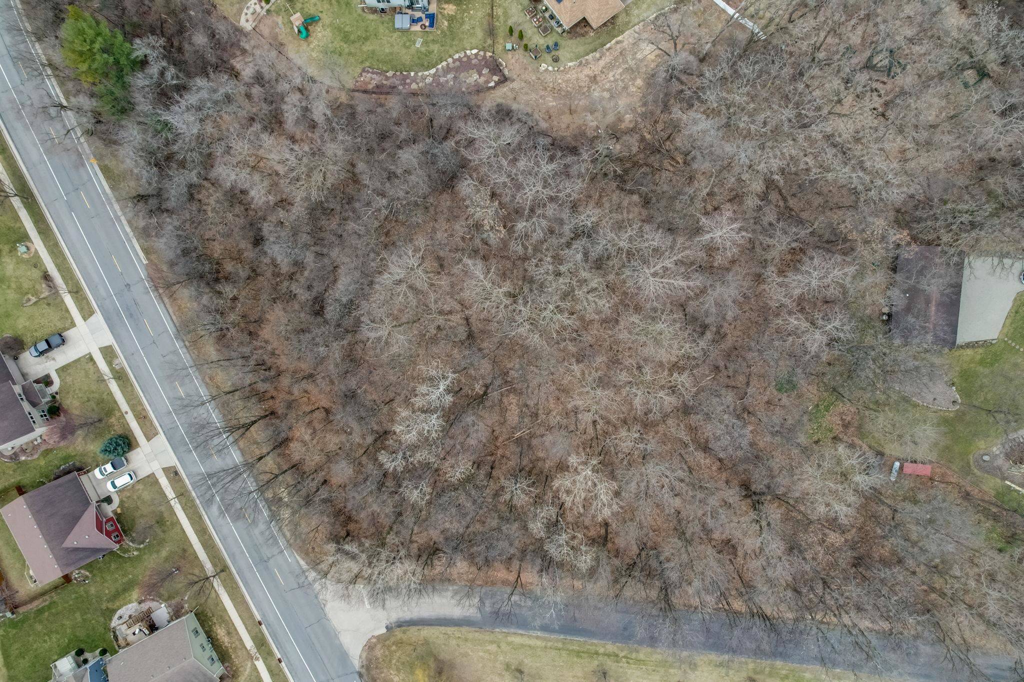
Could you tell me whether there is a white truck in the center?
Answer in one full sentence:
No, the scene shows no white truck in the center.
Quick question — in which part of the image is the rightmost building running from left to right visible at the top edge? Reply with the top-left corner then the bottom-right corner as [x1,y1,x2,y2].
[539,0,625,35]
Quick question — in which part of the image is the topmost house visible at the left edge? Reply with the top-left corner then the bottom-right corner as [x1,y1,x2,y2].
[0,347,65,453]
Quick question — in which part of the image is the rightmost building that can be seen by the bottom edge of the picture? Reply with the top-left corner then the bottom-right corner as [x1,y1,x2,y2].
[96,607,227,682]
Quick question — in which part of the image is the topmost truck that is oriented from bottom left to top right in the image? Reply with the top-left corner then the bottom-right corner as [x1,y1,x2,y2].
[27,330,69,360]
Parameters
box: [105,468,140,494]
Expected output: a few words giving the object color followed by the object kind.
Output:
white car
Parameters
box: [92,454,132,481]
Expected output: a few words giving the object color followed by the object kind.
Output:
white truck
